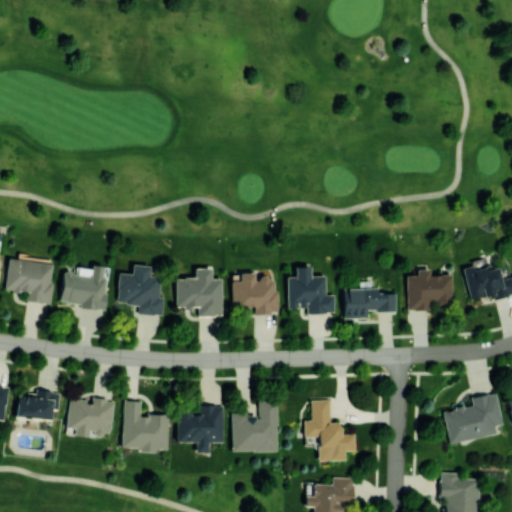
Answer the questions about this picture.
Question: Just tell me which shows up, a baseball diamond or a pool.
pool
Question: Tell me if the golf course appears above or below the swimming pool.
above it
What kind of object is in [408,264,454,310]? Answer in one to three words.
house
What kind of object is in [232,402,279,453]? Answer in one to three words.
house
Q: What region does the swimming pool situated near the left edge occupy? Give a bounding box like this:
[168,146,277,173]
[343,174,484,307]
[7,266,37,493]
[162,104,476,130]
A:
[10,429,52,458]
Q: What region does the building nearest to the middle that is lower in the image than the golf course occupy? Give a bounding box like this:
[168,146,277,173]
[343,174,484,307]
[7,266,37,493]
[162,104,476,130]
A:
[232,269,280,314]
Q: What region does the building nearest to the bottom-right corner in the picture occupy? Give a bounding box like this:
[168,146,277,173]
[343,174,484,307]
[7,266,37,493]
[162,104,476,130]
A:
[442,474,482,512]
